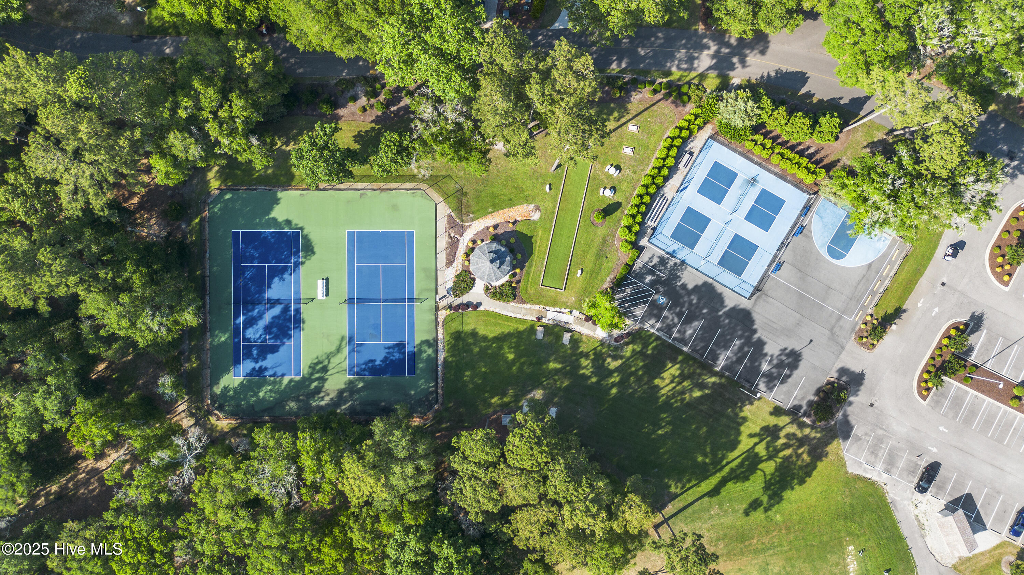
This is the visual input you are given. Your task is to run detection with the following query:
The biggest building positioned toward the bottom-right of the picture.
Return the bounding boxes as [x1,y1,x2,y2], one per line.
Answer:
[930,507,978,559]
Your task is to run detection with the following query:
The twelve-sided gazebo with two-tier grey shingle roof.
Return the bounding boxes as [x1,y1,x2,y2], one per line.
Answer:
[468,241,512,285]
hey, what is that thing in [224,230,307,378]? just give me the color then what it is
blue tennis court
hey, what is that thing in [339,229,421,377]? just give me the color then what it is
blue tennis court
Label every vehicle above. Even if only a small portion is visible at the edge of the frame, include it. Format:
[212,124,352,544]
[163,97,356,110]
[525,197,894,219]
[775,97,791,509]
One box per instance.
[1012,508,1024,536]
[915,467,938,496]
[943,245,961,262]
